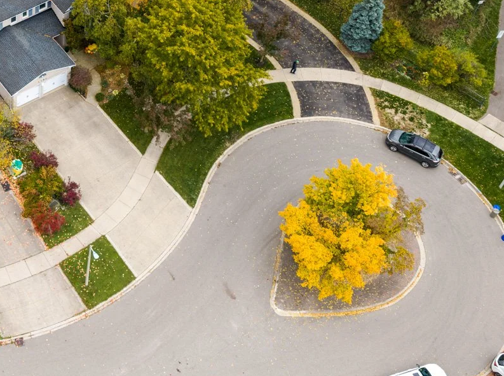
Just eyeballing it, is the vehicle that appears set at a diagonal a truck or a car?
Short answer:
car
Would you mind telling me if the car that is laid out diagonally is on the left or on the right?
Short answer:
right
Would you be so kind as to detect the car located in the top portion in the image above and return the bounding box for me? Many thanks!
[382,122,447,171]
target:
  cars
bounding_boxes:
[484,342,504,376]
[382,122,447,171]
[381,360,447,376]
